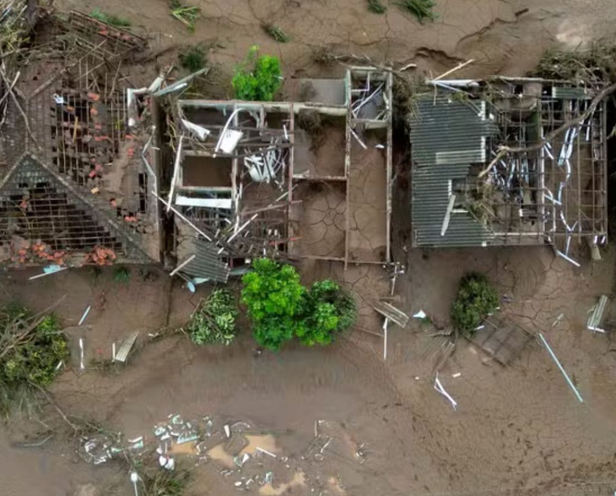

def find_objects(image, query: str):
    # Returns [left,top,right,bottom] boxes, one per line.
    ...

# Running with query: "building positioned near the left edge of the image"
[0,10,160,264]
